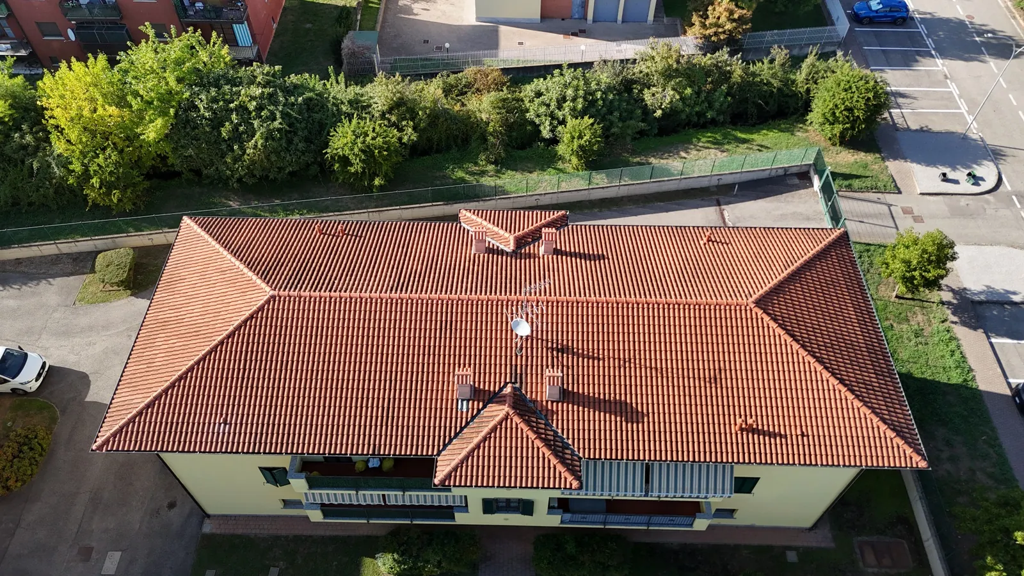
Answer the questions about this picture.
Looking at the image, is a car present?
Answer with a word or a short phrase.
Yes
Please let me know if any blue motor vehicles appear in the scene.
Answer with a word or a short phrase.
Yes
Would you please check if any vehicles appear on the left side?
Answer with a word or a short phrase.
Yes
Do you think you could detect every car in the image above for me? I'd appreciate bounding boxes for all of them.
[1007,381,1024,414]
[0,343,46,390]
[852,0,914,25]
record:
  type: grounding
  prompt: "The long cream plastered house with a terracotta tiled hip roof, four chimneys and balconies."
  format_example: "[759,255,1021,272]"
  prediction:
[90,207,931,530]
